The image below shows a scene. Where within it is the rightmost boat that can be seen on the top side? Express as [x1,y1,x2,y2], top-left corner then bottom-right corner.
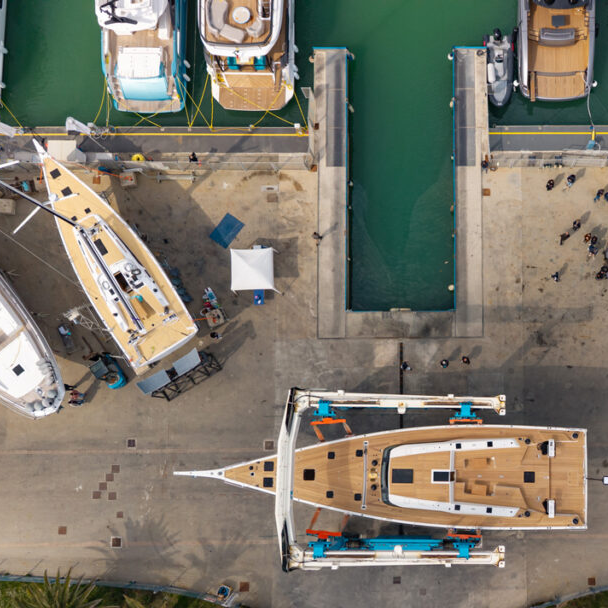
[517,0,596,102]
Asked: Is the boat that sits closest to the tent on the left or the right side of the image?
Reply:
left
